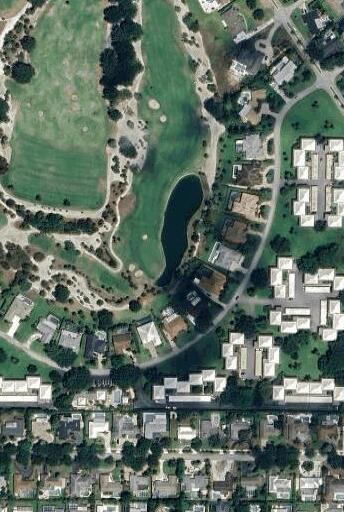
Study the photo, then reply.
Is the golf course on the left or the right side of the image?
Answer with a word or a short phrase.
left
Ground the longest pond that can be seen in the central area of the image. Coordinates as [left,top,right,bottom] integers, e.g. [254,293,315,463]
[160,174,203,286]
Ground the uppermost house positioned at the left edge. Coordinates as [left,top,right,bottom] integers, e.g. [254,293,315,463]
[3,292,37,328]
